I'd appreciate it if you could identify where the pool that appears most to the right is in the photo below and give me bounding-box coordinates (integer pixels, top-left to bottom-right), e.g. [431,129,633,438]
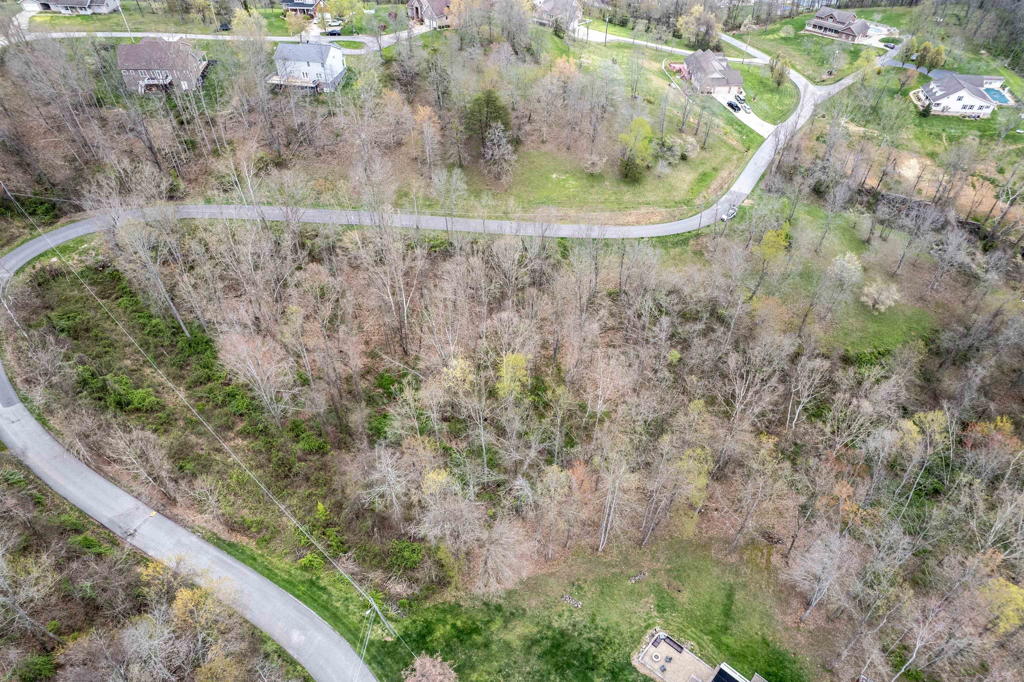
[991,92,1015,107]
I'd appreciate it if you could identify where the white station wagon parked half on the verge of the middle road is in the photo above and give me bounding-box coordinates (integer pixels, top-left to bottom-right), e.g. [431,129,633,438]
[721,204,738,220]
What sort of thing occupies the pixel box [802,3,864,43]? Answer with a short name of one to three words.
house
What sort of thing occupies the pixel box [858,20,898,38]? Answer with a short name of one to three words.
swimming pool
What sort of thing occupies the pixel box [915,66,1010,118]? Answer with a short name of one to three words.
house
